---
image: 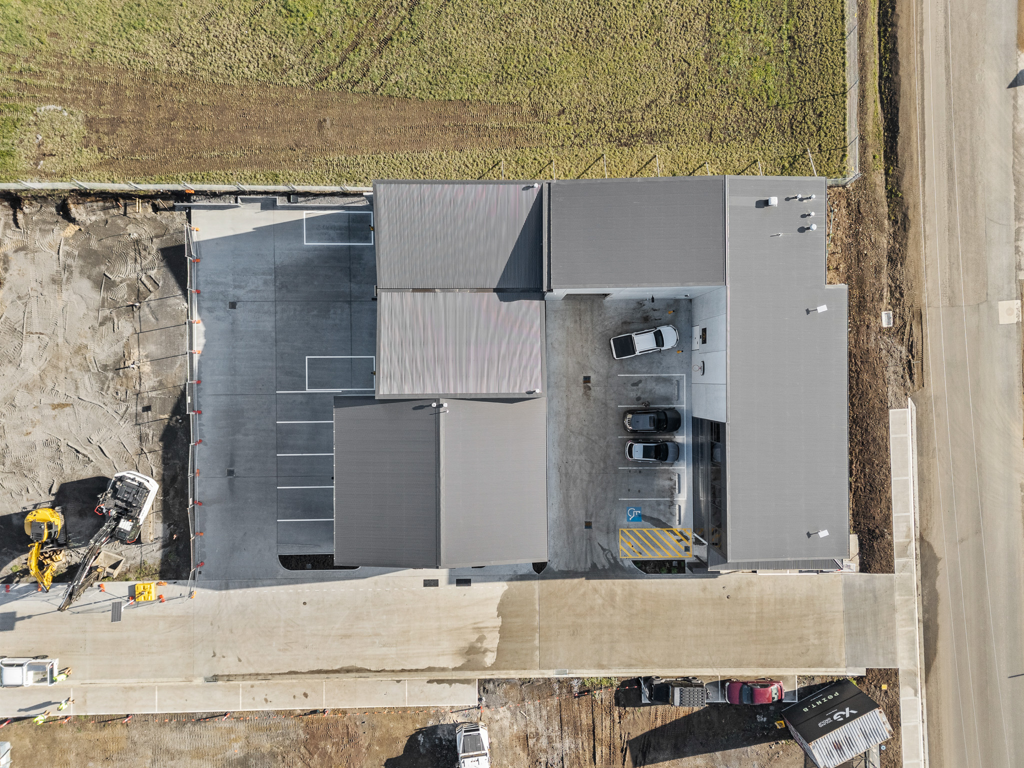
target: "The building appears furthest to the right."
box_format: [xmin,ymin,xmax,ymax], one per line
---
[690,176,850,571]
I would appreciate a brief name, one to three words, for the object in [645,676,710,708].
car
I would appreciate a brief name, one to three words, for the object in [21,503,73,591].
work vehicle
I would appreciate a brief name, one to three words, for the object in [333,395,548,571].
warehouse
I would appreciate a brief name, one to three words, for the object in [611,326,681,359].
truck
